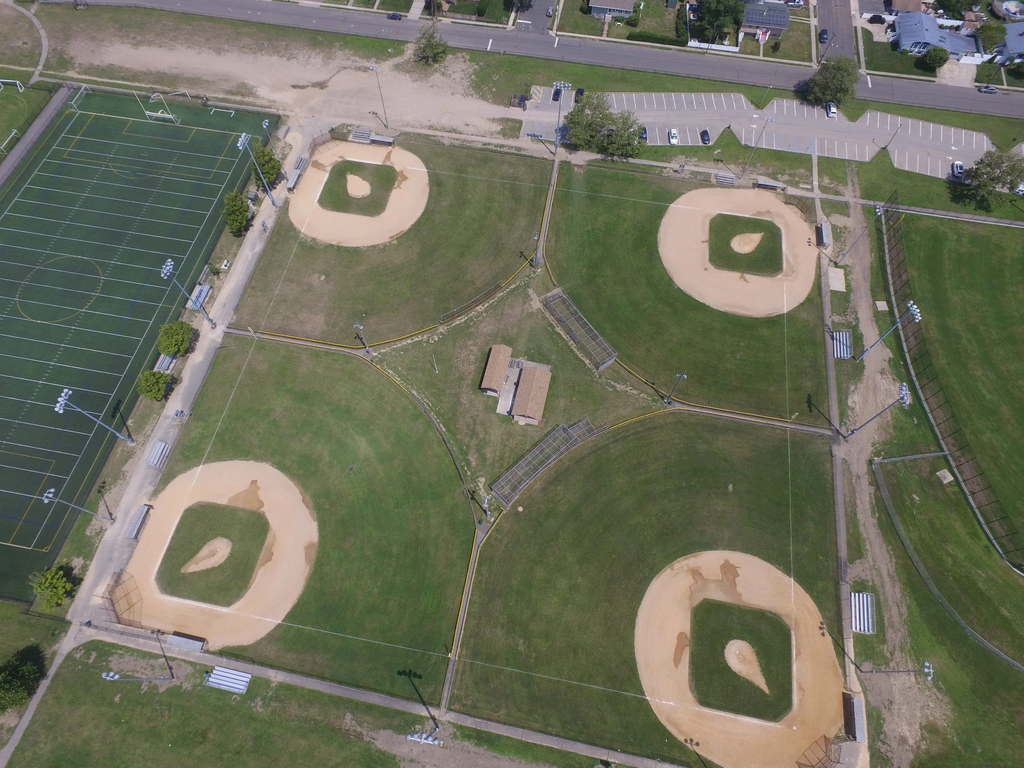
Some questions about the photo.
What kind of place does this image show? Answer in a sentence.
What you see here is a sports ground.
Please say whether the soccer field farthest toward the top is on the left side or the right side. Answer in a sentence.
The soccer field farthest toward the top appears in the left half of the scene.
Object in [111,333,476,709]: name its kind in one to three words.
baseball field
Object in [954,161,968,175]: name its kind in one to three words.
car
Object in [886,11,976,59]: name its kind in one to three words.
house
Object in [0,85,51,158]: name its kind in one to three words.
soccer field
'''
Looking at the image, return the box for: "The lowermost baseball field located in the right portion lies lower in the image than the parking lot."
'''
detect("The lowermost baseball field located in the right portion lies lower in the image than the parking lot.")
[448,409,851,768]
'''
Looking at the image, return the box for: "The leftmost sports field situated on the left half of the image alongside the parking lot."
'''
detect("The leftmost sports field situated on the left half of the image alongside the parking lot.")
[0,93,279,602]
